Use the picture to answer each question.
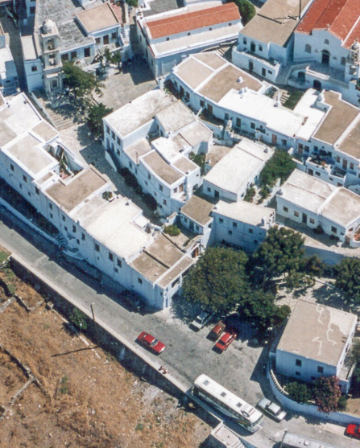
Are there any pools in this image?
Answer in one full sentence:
No, the scene contains no pool.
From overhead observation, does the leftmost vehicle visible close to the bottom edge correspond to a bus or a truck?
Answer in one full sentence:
It looks like the leftmost vehicle visible close to the bottom edge is a bus.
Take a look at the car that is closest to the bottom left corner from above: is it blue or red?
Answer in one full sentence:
The car that is closest to the bottom left corner is red.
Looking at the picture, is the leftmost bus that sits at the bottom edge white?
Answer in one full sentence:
Yes, the leftmost bus that sits at the bottom edge appears white.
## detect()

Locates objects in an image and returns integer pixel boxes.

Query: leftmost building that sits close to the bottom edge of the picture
[212,421,240,447]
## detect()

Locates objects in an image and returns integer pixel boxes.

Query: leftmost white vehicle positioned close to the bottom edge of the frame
[192,373,268,435]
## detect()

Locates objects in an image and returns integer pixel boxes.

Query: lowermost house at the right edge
[276,299,358,383]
